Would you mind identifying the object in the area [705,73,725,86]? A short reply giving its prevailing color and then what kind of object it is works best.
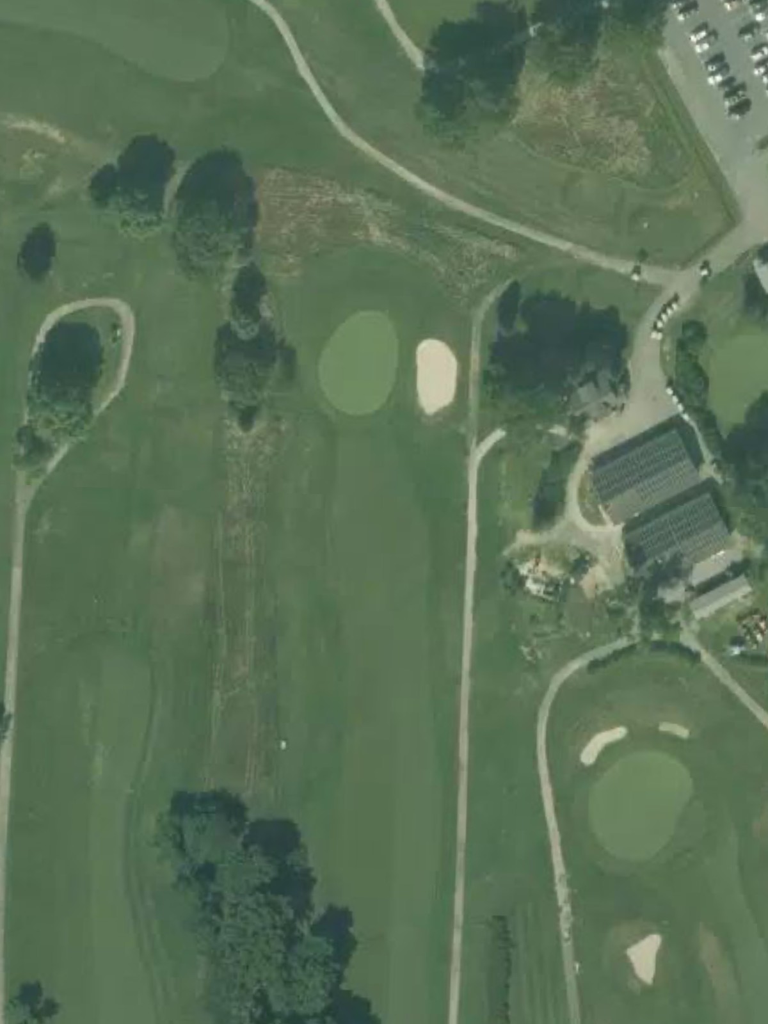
white vehicle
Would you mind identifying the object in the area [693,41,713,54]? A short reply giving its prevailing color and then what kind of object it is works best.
white vehicle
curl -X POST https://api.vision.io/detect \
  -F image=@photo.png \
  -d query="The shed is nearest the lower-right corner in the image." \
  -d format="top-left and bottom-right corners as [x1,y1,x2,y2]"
[690,576,752,618]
